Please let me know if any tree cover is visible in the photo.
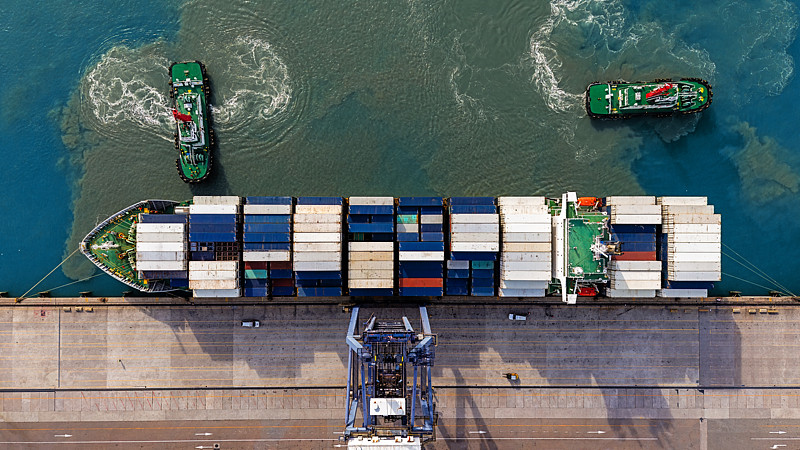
No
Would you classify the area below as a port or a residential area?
port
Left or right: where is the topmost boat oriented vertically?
left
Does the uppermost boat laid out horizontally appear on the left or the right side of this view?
right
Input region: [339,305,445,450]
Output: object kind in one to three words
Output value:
container crane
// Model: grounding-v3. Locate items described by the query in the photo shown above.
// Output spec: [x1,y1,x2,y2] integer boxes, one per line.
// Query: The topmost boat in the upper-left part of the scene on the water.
[168,58,214,184]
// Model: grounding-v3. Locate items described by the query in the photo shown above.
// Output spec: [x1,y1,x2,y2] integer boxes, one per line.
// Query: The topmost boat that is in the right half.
[585,77,712,120]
